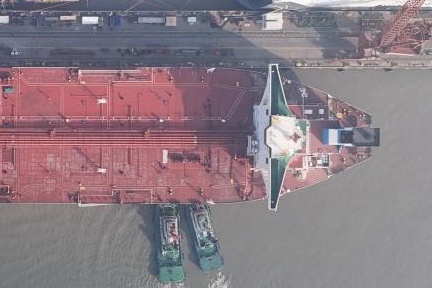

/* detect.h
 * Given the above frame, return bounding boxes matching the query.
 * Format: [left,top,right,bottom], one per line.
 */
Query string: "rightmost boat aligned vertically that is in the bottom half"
[185,203,223,274]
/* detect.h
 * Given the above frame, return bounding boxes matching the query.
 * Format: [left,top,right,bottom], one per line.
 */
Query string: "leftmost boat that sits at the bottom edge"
[152,204,184,284]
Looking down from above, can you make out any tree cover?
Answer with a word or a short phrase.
No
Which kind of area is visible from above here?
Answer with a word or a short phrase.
port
